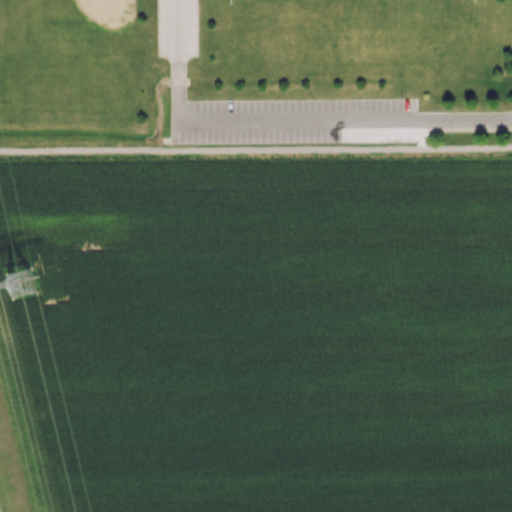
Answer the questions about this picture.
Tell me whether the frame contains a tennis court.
No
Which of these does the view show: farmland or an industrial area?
farmland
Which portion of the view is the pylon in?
left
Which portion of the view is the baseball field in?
top left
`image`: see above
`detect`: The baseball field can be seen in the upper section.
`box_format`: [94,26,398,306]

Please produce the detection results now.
[76,0,138,30]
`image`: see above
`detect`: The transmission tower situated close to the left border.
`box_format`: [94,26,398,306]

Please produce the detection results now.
[0,268,40,300]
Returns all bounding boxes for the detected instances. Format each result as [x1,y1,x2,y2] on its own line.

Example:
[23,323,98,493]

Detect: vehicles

[406,100,410,111]
[228,99,234,113]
